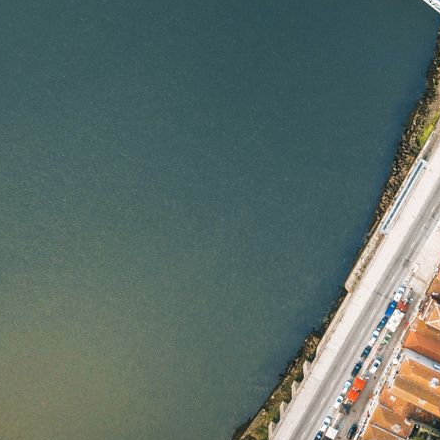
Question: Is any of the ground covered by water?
Yes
